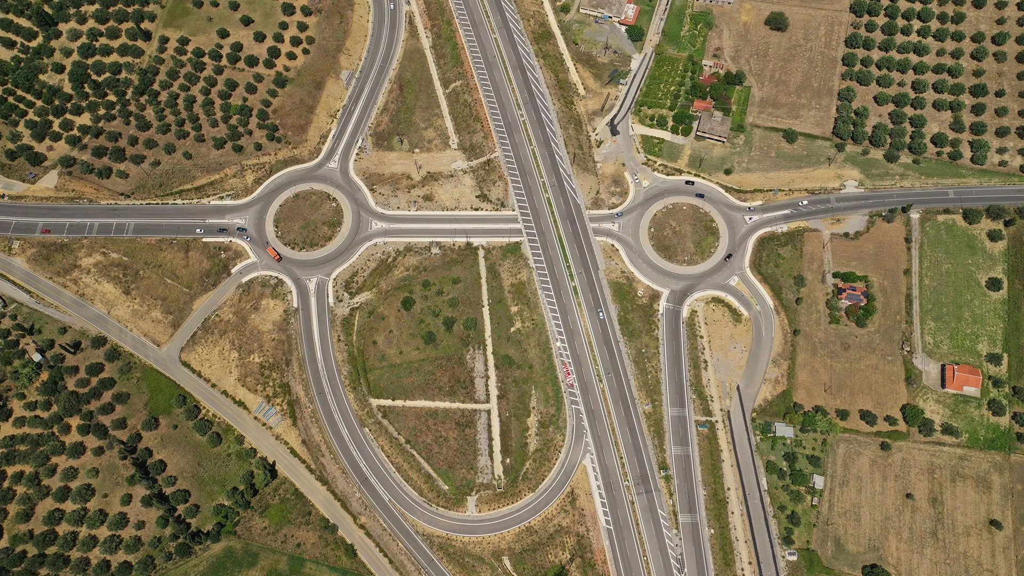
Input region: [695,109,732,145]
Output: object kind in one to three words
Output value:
house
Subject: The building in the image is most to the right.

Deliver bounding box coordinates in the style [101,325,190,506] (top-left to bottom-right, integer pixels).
[937,363,982,399]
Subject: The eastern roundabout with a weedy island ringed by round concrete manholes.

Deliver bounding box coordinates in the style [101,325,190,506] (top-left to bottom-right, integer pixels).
[588,163,790,323]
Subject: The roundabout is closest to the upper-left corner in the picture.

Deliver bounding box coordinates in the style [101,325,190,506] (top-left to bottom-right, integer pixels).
[202,125,523,307]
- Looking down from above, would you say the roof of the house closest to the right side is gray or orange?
orange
